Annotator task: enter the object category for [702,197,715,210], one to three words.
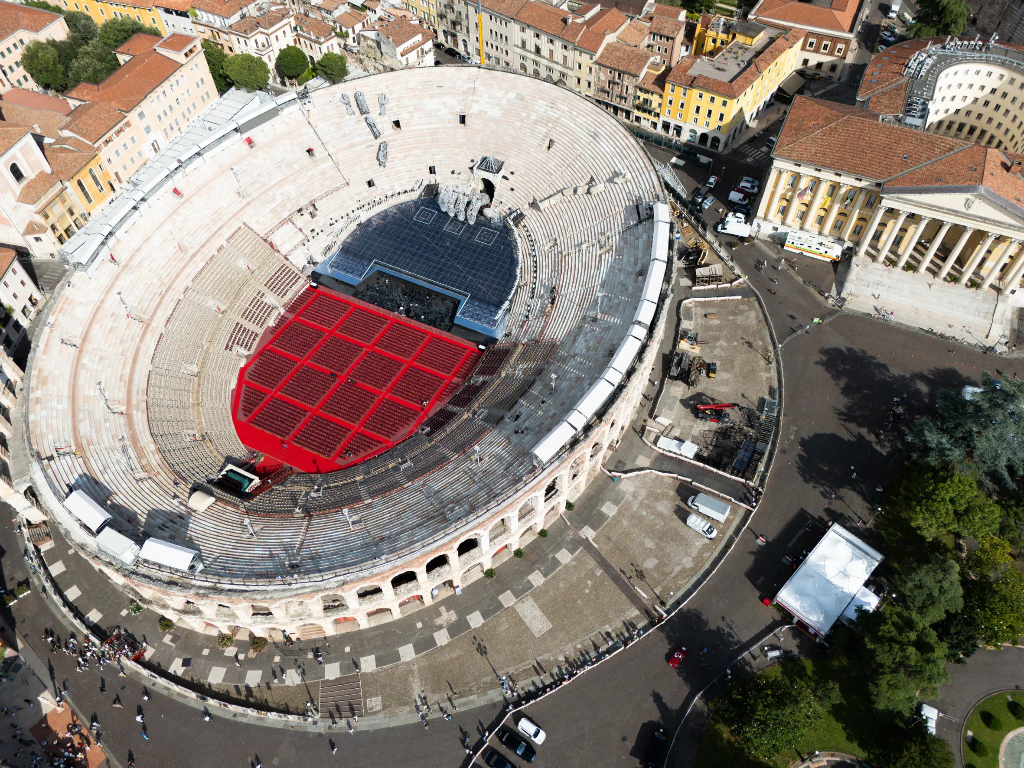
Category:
vehicle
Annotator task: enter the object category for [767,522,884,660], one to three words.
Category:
tent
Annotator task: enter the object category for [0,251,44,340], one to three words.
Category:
house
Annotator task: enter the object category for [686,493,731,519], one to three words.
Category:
truck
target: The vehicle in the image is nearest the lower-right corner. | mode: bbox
[669,641,692,671]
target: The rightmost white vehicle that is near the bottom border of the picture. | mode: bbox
[514,714,549,749]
